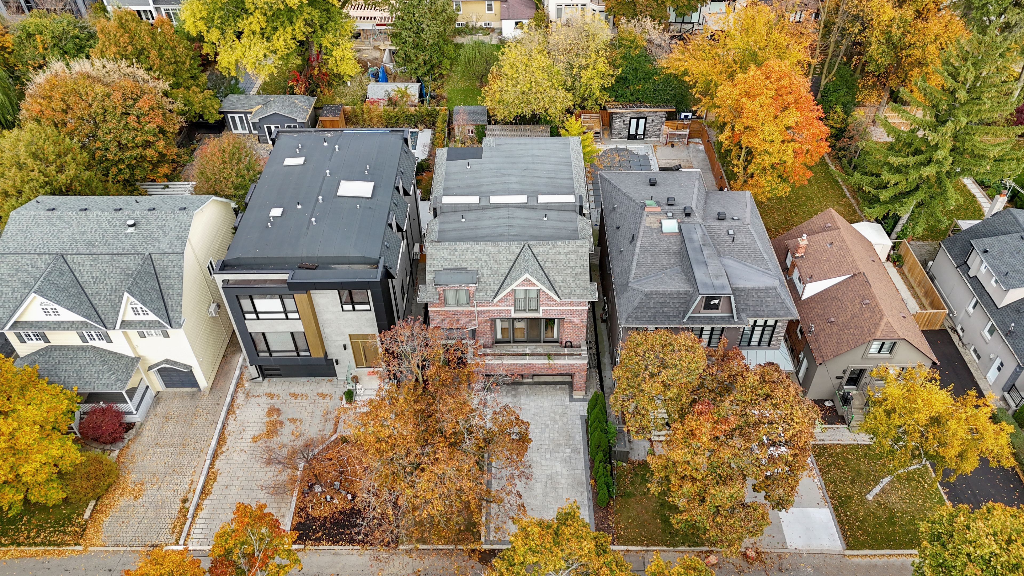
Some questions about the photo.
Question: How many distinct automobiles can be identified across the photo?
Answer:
0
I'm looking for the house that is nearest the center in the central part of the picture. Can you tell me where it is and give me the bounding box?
[417,136,604,397]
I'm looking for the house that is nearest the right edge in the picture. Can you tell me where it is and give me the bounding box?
[932,190,1024,420]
